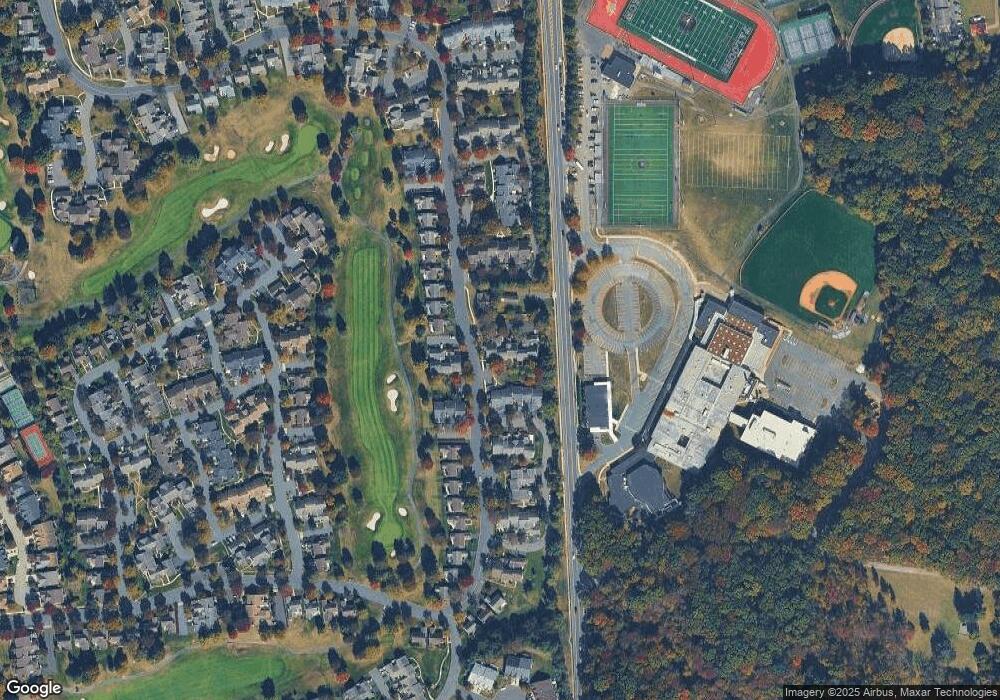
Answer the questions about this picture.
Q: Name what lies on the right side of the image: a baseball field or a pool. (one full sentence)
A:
What appears on the right side of the image is a baseball field.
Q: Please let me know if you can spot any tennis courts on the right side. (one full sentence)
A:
Yes, a tennis court shows up on the right side.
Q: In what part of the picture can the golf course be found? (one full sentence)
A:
Look in the left portion of the view to spot the golf course.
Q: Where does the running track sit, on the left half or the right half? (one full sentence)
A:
The running track appears in the right half of the scene.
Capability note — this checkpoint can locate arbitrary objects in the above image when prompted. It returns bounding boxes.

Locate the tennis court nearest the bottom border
[21,426,54,468]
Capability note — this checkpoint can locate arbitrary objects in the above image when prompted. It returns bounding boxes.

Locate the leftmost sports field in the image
[603,99,679,229]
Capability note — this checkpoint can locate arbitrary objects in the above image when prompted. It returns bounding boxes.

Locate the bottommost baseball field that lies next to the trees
[737,190,876,330]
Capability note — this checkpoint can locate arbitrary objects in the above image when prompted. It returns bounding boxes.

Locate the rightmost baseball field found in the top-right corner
[848,0,921,72]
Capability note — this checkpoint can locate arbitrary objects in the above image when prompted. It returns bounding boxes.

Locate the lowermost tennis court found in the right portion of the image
[780,12,842,62]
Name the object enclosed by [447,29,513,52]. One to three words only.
house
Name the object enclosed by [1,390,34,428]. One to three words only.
tennis court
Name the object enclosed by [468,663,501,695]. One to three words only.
building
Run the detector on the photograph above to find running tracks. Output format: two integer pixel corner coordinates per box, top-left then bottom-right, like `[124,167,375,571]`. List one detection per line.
[584,0,775,107]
